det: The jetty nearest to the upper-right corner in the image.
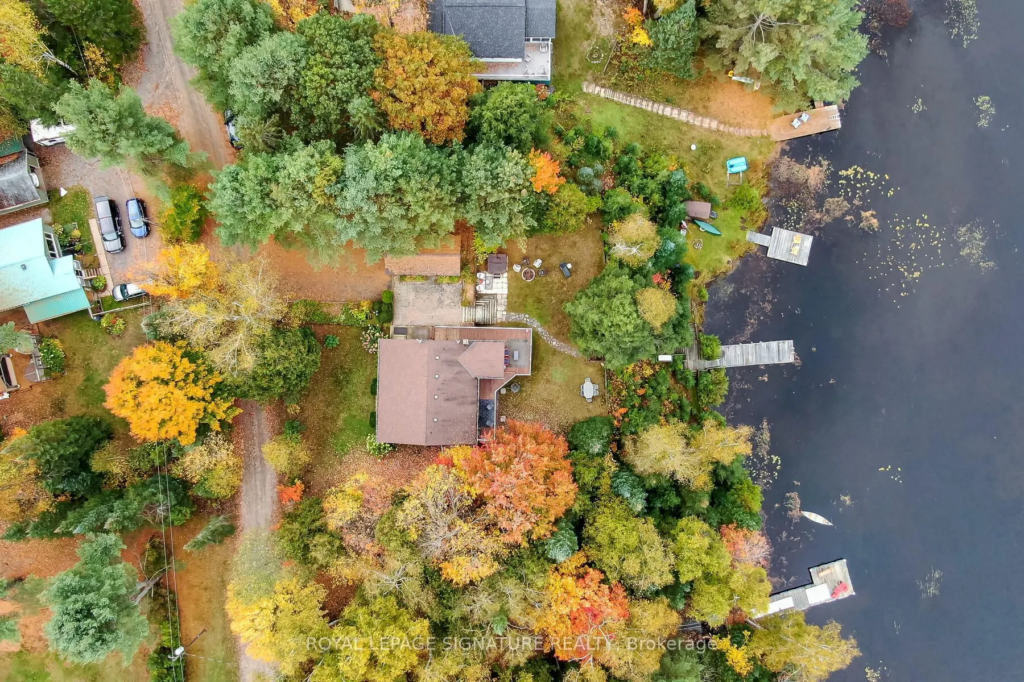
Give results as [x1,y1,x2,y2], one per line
[769,96,841,142]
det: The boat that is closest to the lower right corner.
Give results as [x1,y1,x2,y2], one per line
[800,510,833,526]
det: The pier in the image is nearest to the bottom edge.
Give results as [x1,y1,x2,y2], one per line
[750,558,856,621]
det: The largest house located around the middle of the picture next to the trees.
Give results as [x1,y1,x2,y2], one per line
[375,326,532,446]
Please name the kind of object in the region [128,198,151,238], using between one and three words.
car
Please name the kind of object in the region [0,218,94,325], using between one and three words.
house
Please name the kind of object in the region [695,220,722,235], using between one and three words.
boat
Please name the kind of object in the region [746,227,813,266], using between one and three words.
pier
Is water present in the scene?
Yes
